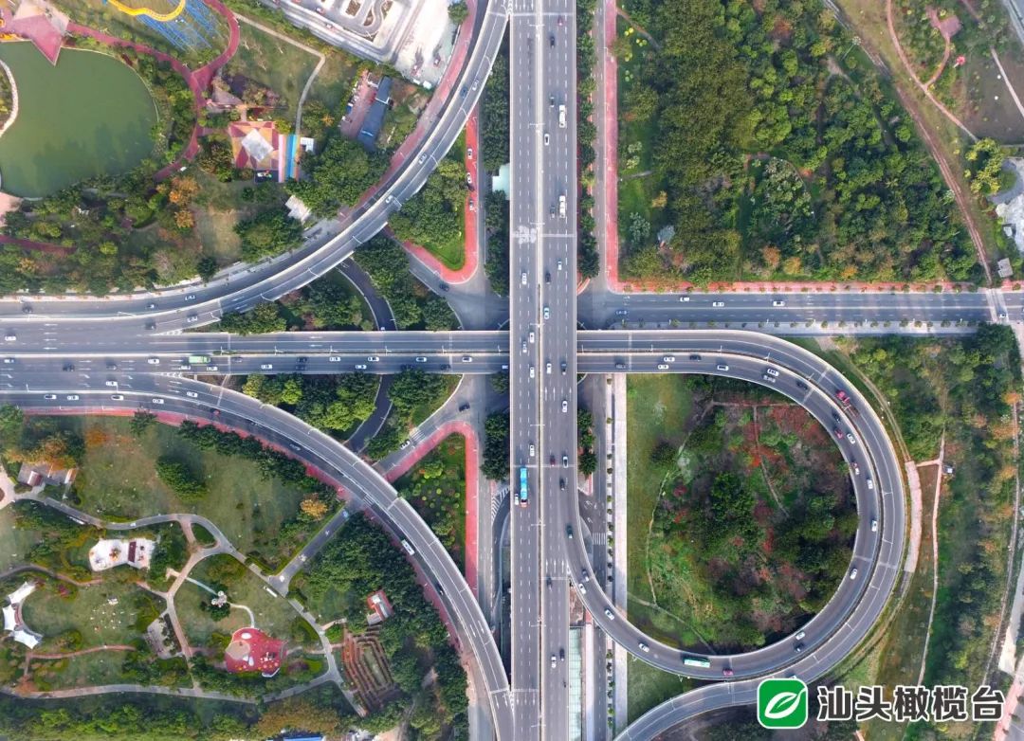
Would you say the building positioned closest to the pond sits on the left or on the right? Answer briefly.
left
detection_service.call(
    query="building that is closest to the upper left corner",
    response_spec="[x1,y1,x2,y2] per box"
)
[207,89,245,112]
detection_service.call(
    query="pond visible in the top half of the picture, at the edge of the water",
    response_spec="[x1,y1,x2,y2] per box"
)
[0,39,160,196]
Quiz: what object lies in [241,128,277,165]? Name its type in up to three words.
building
